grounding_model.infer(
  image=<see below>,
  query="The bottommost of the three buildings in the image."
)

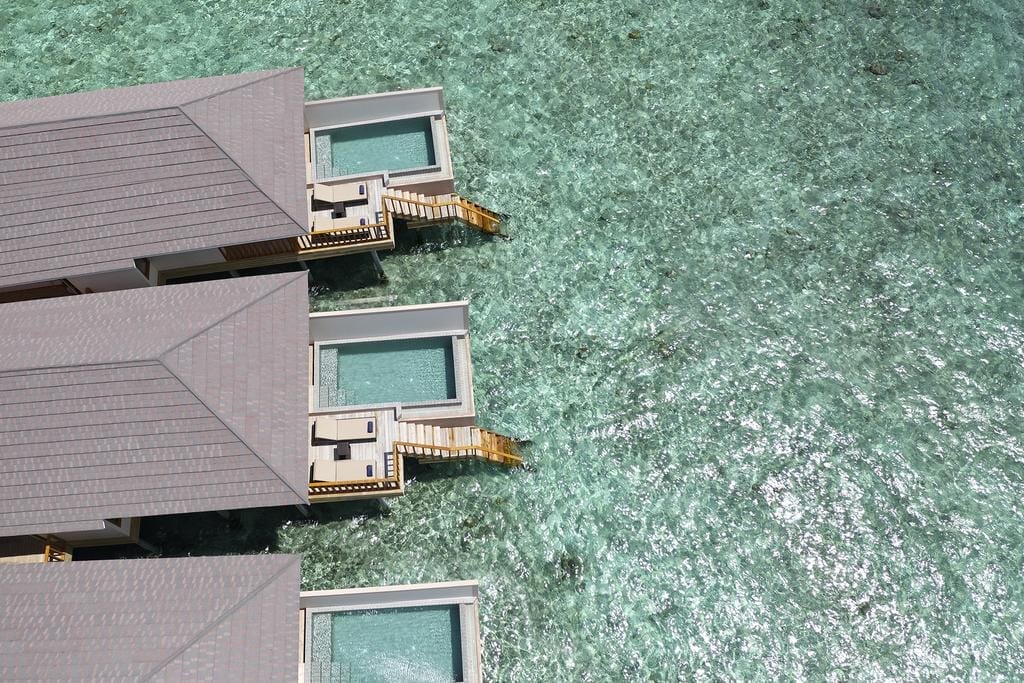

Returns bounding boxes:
[0,551,303,683]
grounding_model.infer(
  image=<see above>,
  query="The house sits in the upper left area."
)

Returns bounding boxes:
[0,64,311,299]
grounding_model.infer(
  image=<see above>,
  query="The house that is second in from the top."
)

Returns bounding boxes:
[0,270,310,553]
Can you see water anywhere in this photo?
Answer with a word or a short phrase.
Yes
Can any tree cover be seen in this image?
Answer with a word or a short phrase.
No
